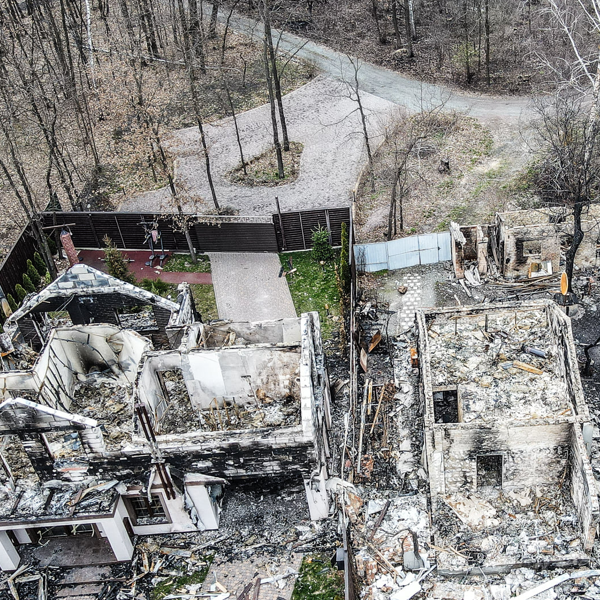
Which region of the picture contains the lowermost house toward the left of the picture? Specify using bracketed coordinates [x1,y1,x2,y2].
[0,255,347,594]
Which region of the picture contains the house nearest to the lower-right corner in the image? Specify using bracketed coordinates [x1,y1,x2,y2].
[415,300,598,570]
